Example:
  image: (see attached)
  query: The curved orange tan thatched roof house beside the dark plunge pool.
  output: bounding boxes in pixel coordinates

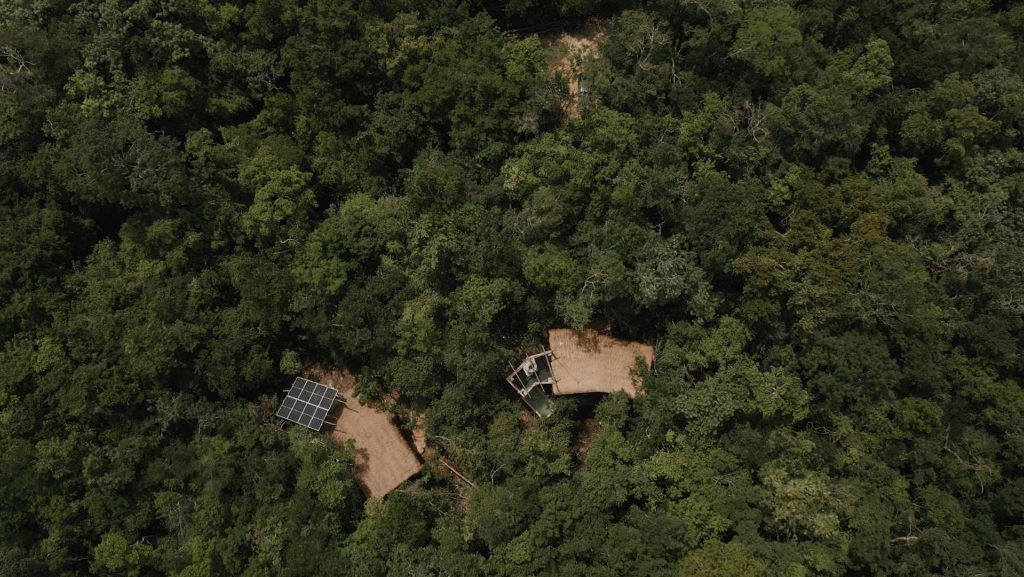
[549,327,654,403]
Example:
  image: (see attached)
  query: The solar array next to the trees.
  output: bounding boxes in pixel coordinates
[276,377,346,435]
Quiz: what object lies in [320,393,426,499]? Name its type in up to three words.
house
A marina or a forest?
forest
